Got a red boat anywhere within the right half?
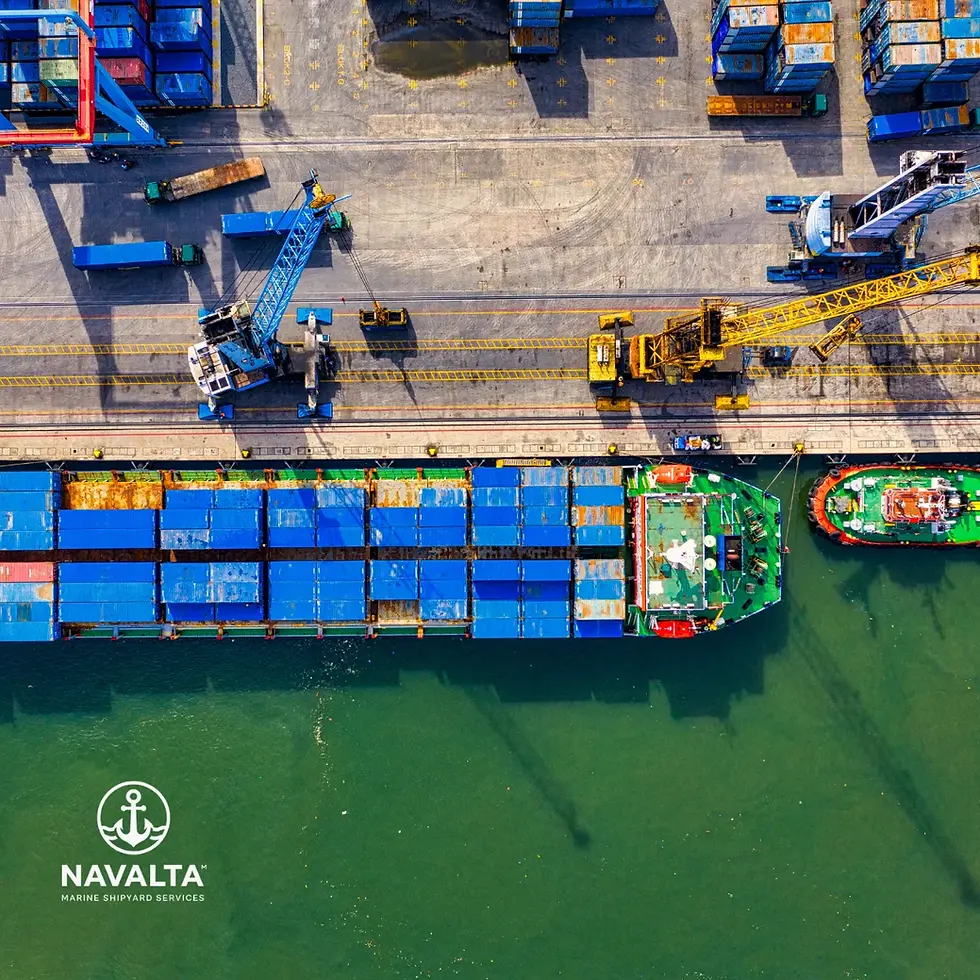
Yes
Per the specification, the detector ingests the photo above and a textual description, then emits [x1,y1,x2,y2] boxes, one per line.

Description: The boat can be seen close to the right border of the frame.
[806,459,980,546]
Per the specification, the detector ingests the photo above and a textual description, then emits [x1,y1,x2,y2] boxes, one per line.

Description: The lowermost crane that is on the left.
[184,163,384,419]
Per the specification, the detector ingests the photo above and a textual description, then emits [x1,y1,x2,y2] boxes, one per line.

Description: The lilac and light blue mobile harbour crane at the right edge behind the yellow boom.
[765,149,980,282]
